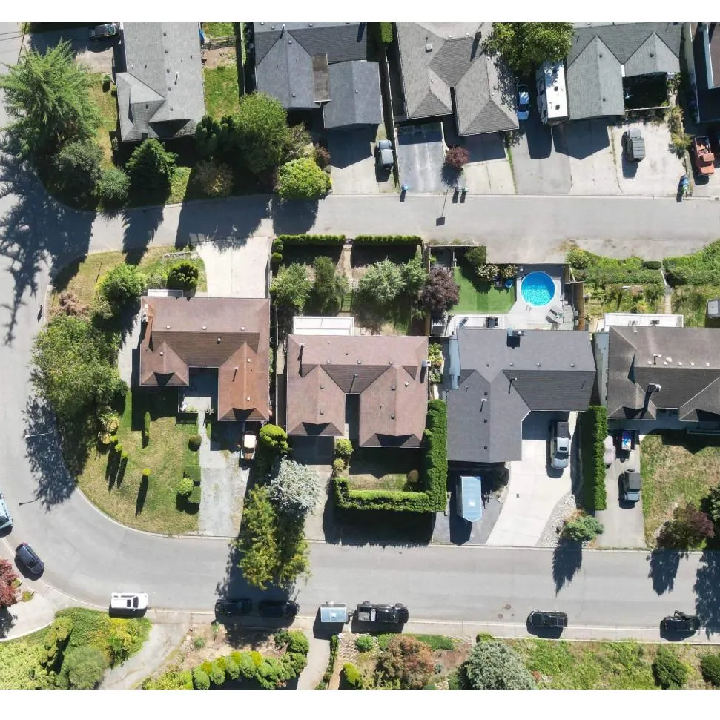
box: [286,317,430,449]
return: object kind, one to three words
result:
house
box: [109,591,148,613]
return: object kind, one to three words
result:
car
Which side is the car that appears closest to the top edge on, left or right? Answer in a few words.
left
